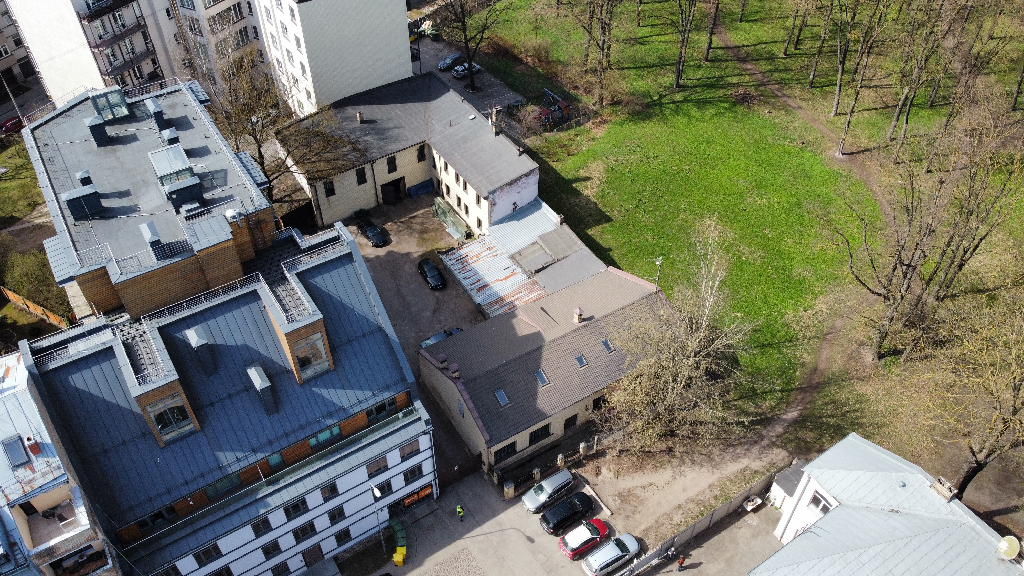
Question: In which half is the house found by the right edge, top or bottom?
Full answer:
Seen from above, the house found by the right edge lies in the bottom half of the view.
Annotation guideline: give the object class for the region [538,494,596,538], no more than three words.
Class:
car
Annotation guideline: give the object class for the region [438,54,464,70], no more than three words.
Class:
car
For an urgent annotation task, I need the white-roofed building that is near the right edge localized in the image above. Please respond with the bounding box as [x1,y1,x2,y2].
[752,428,1024,576]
